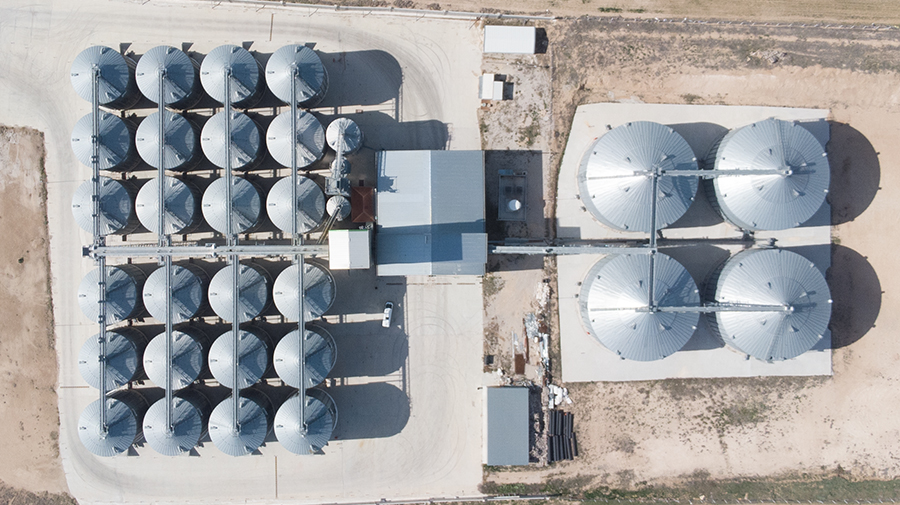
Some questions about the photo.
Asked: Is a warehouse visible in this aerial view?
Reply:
Yes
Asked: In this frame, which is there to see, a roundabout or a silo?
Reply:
silo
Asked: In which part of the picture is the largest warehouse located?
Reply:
center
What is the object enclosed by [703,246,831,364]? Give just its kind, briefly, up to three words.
silo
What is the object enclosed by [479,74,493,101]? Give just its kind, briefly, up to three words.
building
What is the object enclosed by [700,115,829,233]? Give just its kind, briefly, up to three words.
silo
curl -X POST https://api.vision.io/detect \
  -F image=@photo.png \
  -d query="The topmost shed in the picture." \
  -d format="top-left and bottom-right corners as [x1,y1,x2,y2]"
[484,26,535,55]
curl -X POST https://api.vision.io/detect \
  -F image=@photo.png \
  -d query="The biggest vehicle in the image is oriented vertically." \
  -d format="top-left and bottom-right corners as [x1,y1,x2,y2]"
[381,300,394,328]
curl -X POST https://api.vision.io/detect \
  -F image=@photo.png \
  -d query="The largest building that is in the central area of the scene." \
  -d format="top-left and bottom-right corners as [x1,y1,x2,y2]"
[375,149,487,276]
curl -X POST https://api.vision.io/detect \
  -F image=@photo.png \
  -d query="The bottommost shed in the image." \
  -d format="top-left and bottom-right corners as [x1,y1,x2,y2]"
[480,384,529,465]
